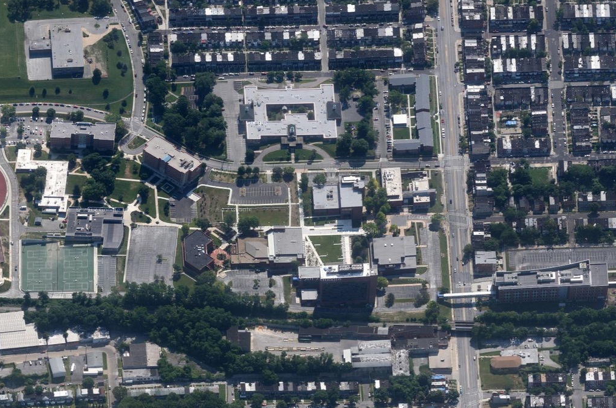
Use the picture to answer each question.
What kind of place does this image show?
residential area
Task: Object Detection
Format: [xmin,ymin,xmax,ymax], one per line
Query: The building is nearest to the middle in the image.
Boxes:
[313,185,340,215]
